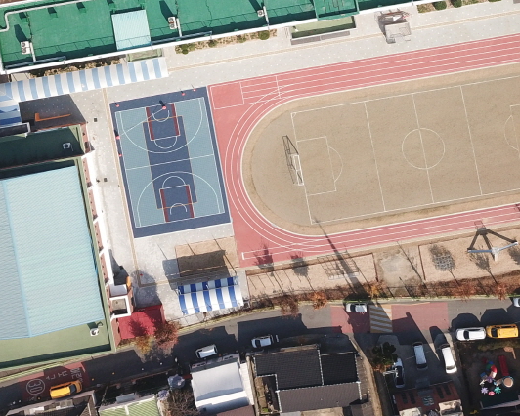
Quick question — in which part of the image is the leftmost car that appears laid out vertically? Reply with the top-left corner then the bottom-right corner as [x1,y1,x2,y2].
[393,361,405,387]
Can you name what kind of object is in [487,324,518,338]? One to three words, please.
vehicle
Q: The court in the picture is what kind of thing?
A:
basketball court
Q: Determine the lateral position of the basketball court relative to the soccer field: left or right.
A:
to its left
